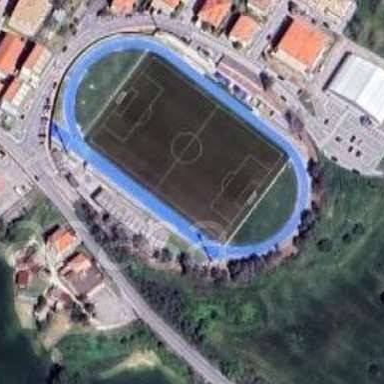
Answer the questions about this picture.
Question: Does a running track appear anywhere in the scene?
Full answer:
Yes, looking at the shot, I can spot a running track.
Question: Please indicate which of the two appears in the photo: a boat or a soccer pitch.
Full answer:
This aerial view contains a soccer pitch.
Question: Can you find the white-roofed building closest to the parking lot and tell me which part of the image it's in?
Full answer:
The white-roofed building closest to the parking lot is located in the top right region of the scene.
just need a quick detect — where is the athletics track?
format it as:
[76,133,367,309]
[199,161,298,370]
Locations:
[52,36,314,262]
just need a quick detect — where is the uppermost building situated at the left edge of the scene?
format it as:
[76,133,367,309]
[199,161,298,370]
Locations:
[6,0,51,44]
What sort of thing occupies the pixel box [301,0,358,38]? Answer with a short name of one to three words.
building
